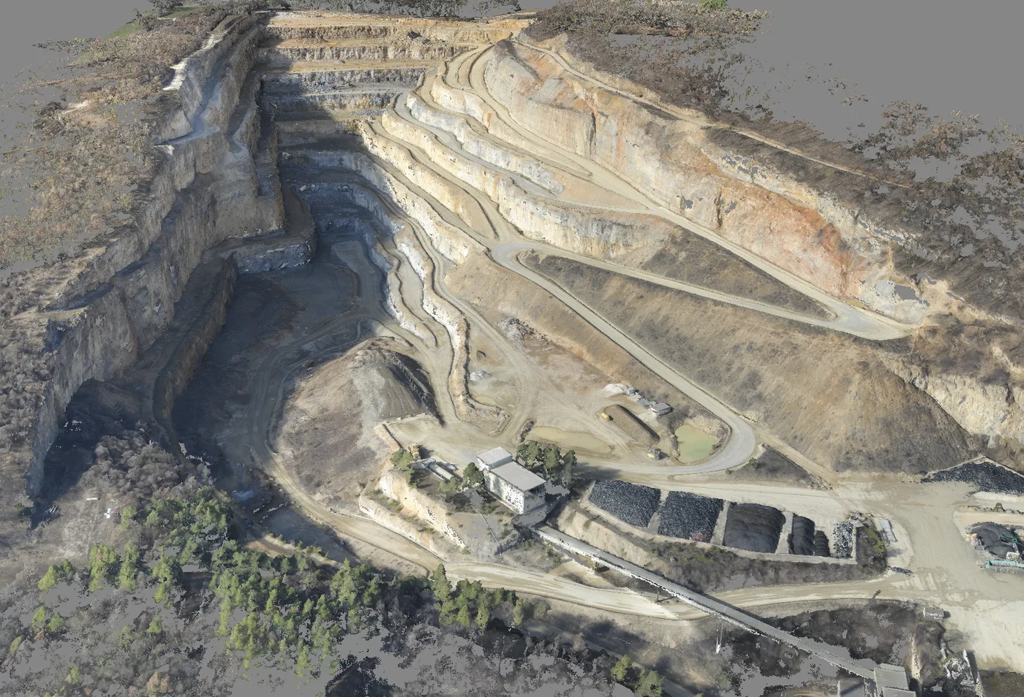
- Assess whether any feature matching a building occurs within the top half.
No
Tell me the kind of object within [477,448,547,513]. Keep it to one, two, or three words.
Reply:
building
